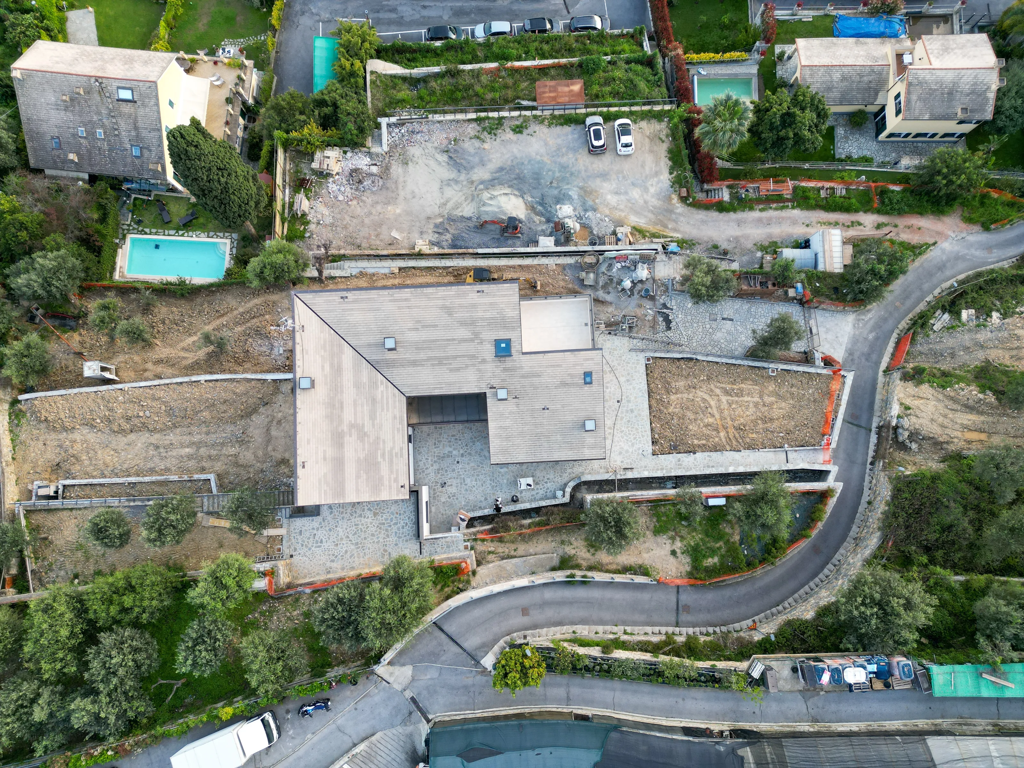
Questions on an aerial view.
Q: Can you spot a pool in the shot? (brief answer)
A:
Yes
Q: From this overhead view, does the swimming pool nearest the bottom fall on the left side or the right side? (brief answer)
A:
left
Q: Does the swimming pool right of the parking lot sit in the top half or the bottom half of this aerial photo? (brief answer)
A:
top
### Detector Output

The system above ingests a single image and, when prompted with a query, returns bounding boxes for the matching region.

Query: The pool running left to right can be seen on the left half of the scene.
[114,234,231,280]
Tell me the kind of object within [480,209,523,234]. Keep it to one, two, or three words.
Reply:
work vehicle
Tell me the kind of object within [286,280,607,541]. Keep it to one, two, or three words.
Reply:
house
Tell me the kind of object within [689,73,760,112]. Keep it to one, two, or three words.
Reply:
swimming pool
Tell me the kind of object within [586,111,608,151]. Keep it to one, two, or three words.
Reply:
car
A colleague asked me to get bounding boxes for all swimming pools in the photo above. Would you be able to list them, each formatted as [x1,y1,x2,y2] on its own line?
[689,73,760,112]
[114,234,231,280]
